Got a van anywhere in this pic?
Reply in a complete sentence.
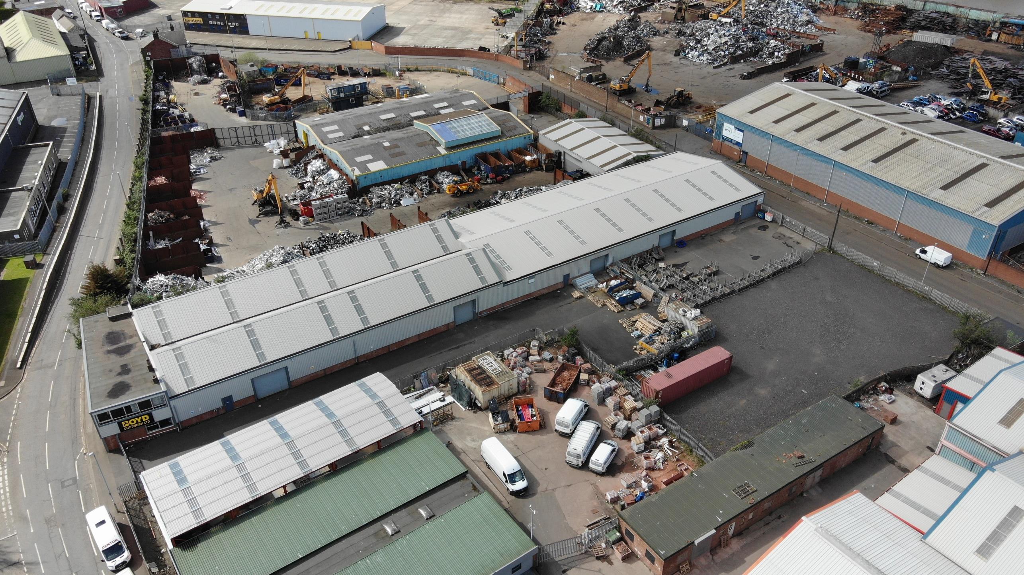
Yes, there's a van down there.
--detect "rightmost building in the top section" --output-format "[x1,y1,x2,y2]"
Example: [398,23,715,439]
[712,81,1024,270]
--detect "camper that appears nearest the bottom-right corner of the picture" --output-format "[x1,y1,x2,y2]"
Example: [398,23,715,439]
[917,360,964,400]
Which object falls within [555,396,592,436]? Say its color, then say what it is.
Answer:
white van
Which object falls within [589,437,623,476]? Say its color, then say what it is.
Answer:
white van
